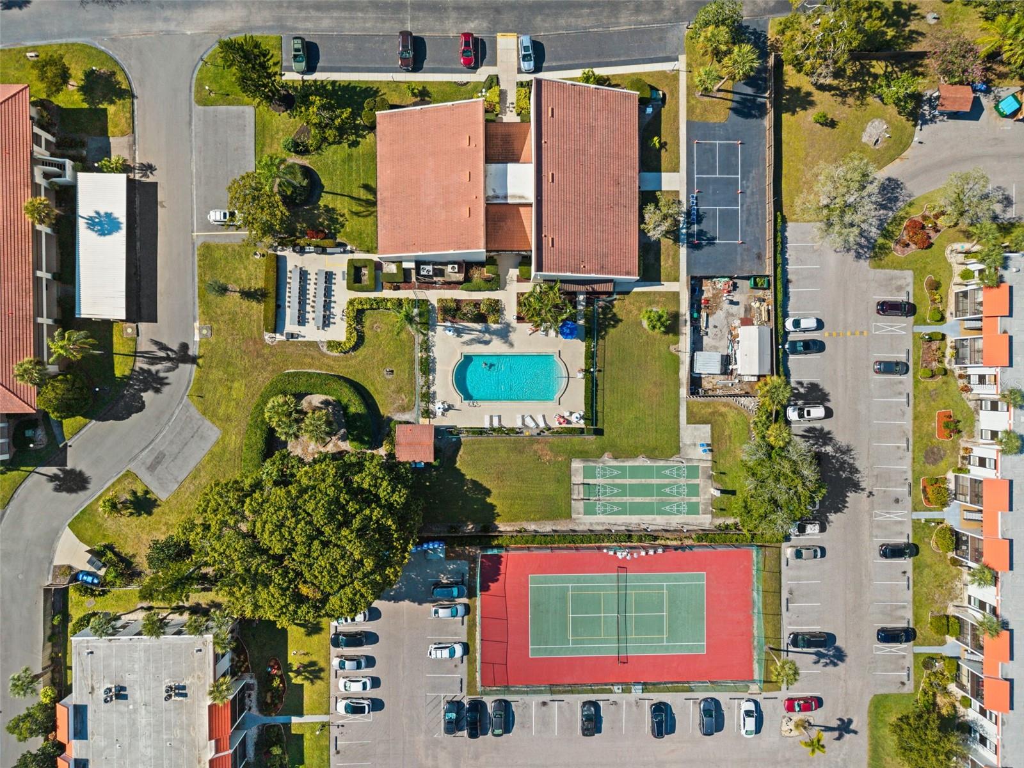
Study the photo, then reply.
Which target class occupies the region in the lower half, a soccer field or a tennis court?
tennis court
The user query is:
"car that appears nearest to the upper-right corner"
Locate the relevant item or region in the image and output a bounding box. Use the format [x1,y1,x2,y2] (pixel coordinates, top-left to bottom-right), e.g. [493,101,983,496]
[874,300,913,317]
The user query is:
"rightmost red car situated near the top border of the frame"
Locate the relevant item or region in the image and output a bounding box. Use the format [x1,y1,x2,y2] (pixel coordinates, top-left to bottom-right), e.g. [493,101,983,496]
[459,32,475,71]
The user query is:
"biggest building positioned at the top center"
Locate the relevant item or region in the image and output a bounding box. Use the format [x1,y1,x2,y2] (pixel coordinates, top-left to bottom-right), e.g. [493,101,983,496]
[376,76,639,294]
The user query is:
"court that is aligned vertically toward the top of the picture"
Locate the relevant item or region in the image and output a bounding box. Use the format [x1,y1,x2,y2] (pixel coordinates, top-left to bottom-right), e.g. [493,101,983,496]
[695,141,740,242]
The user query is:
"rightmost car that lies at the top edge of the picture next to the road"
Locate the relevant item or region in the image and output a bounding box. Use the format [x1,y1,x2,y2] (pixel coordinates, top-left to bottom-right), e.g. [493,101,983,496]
[518,35,535,74]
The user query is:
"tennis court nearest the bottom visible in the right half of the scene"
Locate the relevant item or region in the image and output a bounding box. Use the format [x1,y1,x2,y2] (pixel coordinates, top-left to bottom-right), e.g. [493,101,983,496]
[479,546,756,687]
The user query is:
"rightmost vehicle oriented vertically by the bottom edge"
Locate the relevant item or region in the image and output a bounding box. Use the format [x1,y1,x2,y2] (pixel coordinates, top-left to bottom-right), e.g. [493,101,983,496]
[740,697,758,737]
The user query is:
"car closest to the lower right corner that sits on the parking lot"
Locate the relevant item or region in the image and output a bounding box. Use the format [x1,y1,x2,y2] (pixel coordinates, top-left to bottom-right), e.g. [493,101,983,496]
[876,626,914,644]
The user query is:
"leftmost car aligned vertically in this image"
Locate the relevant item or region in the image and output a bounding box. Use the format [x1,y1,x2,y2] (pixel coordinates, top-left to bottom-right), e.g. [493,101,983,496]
[289,36,308,75]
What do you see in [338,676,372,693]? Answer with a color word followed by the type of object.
white car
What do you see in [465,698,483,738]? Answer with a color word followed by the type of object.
black car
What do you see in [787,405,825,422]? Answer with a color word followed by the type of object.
white car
